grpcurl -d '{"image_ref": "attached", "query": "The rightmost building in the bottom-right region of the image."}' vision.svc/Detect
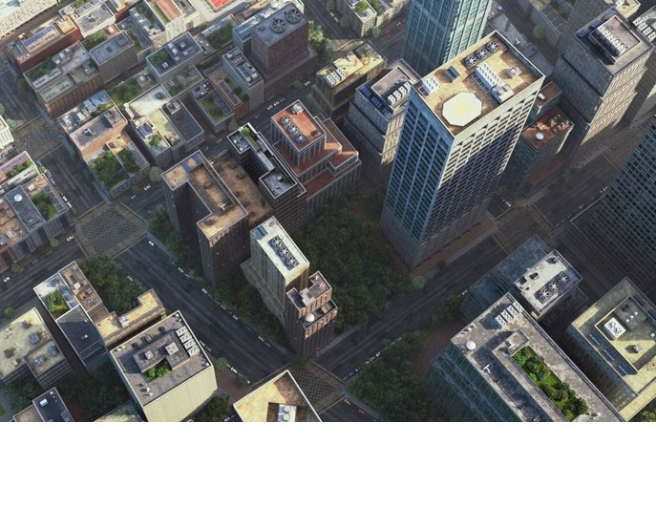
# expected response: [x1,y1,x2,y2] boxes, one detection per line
[616,385,656,424]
